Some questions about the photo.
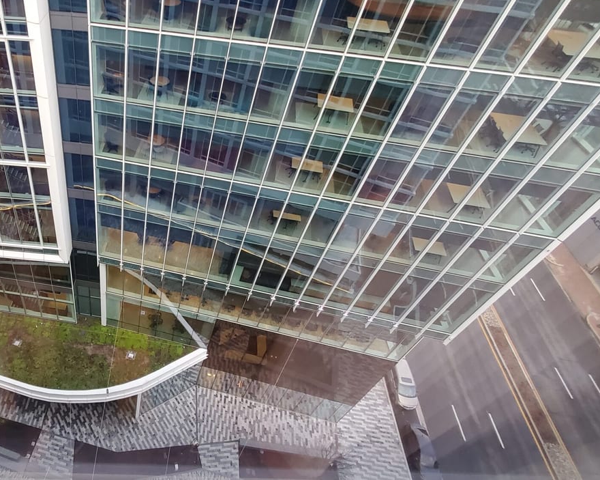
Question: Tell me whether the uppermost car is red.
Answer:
No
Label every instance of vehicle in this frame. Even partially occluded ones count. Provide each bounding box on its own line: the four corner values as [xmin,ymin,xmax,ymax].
[387,361,420,411]
[406,431,445,480]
